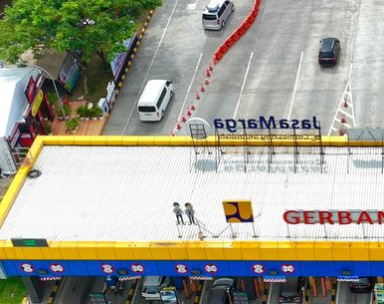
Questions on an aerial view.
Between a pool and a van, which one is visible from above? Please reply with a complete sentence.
The image shows a van.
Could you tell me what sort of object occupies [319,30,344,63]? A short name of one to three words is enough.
car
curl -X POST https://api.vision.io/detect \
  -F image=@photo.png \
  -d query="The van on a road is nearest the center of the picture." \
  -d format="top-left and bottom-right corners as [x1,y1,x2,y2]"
[138,72,173,117]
